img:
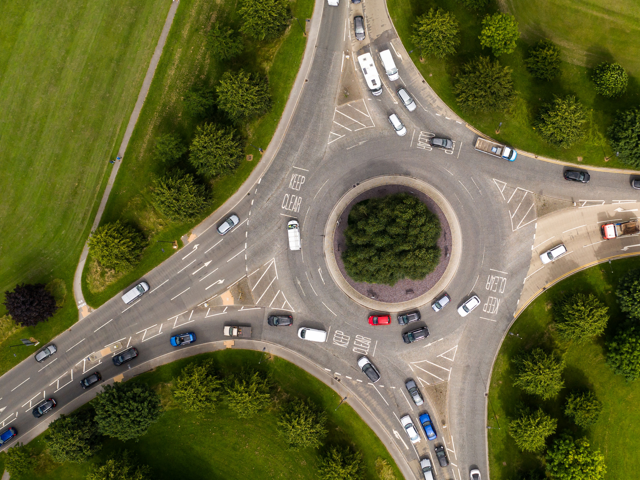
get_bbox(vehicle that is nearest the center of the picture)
[287,219,302,251]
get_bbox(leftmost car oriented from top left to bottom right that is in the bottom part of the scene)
[357,355,382,385]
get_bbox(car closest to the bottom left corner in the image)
[0,426,19,447]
